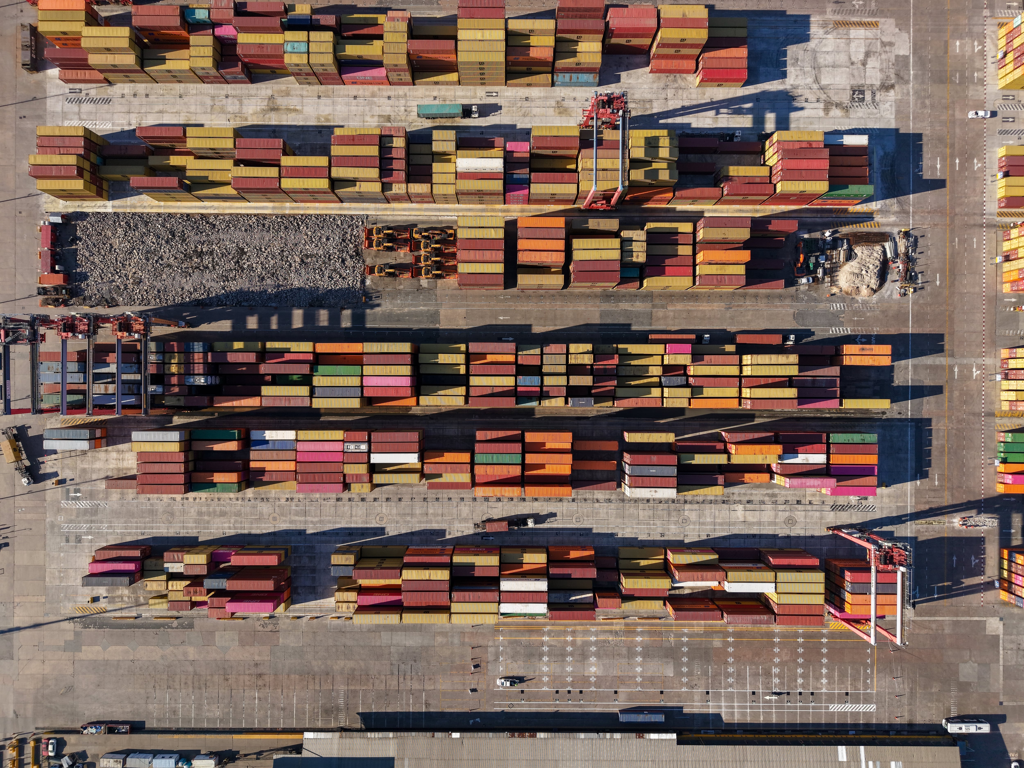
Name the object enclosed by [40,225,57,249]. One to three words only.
building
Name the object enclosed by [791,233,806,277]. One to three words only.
work vehicle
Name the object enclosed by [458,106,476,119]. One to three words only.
vehicle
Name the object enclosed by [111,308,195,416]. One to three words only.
container crane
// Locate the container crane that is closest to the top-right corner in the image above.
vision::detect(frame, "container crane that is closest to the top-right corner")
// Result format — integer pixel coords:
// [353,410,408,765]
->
[577,84,635,214]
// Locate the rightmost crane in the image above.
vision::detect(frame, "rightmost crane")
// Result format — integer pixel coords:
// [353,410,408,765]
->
[823,530,911,649]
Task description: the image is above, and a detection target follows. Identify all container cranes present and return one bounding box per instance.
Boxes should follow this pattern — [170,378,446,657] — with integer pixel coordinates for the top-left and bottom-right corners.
[56,308,143,416]
[0,308,89,415]
[111,308,195,416]
[577,84,635,214]
[823,530,911,649]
